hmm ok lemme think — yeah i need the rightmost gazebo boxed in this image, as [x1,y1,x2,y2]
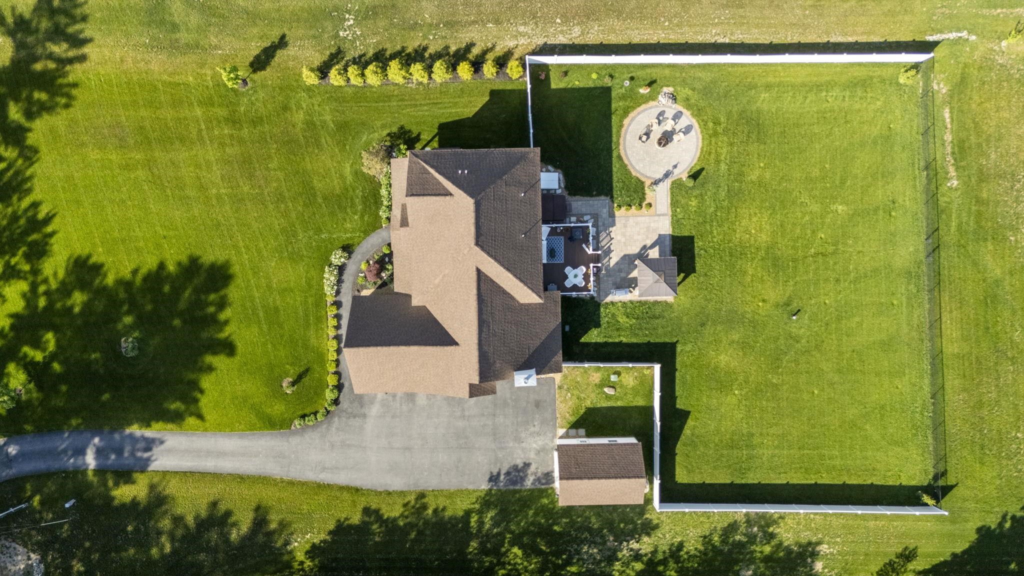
[634,256,678,298]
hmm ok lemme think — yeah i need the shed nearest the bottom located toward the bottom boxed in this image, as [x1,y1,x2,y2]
[554,439,646,506]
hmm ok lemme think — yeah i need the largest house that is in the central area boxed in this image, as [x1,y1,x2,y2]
[343,149,563,400]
